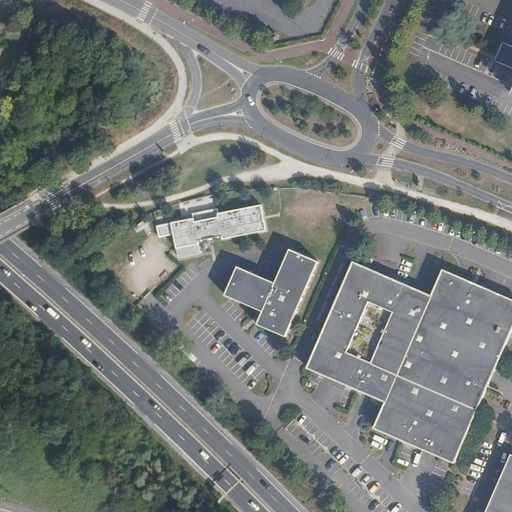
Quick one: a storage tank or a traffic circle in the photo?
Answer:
traffic circle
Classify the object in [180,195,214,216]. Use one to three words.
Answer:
building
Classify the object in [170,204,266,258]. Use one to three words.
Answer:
building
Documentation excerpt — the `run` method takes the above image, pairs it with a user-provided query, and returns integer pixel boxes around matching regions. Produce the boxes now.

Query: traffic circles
[240,66,382,167]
